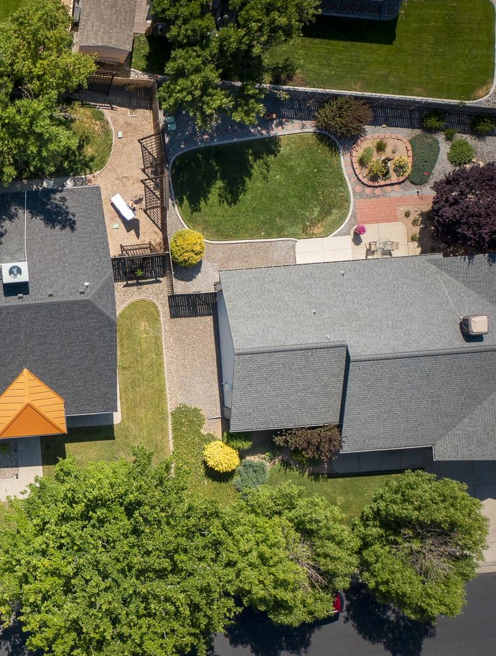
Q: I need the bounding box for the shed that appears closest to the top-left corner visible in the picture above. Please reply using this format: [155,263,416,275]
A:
[79,0,138,67]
